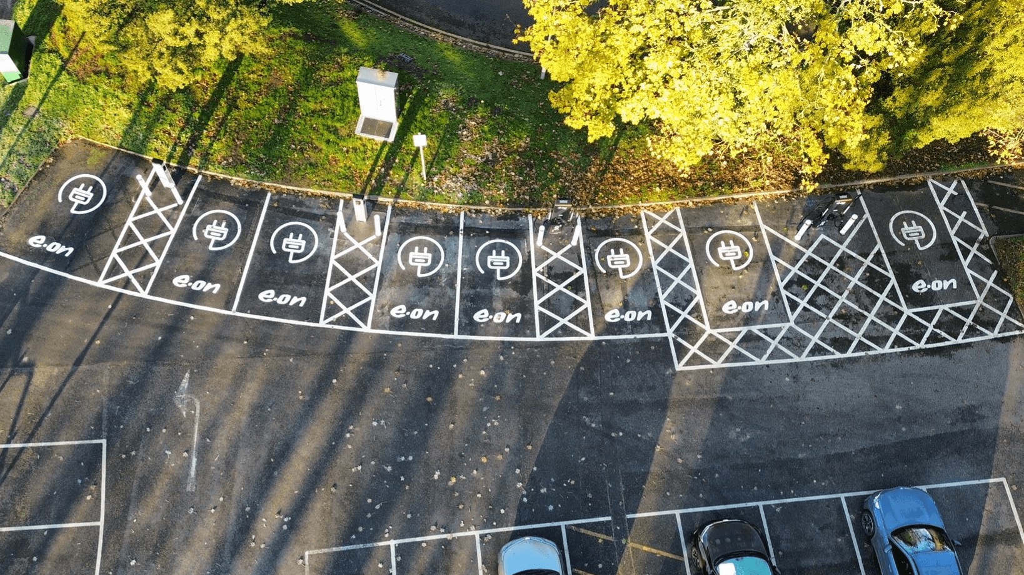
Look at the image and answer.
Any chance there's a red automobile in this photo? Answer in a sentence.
No, this view has no red automobile in it.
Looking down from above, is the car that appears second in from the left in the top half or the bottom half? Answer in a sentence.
The bottom half of the photo is where the car that appears second in from the left is.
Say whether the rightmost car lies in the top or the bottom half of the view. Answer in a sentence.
The bottom half of the photo is where the rightmost car is.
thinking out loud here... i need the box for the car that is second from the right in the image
[697,519,775,575]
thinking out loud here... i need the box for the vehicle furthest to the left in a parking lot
[499,536,566,575]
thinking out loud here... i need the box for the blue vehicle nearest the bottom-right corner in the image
[870,489,968,575]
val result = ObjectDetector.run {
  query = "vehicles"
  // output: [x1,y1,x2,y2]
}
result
[697,519,775,575]
[499,536,566,575]
[870,489,968,575]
